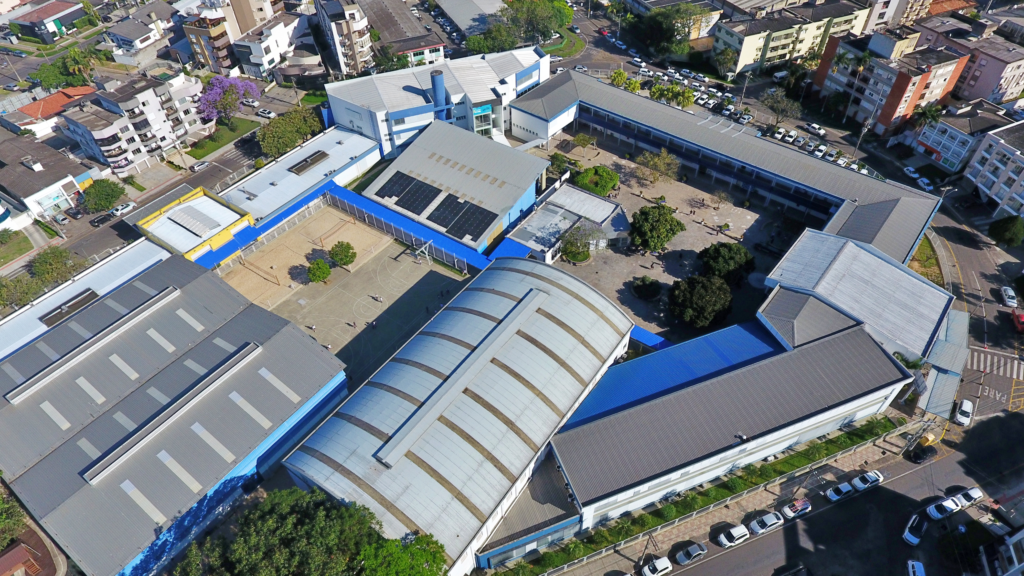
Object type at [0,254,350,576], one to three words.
shed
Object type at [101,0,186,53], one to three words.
house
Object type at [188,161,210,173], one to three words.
vehicle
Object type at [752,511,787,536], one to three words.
car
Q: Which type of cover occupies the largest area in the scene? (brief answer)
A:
buildings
